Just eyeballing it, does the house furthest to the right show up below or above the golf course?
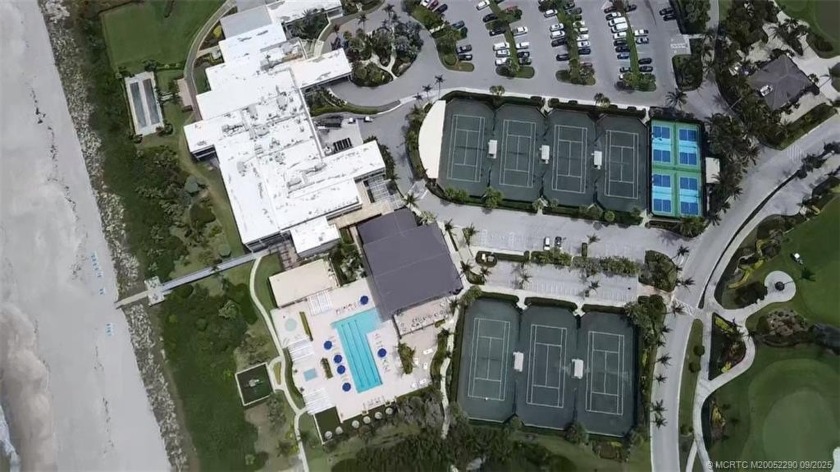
above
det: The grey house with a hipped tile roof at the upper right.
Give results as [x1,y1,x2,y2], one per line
[746,53,815,110]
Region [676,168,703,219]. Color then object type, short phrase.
blue sports court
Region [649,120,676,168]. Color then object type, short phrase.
blue sports court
